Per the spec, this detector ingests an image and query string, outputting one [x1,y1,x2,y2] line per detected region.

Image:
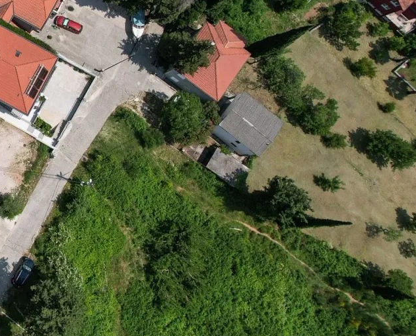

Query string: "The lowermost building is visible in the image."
[199,148,250,188]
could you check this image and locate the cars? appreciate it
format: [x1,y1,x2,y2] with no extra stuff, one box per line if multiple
[10,256,33,287]
[53,15,83,35]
